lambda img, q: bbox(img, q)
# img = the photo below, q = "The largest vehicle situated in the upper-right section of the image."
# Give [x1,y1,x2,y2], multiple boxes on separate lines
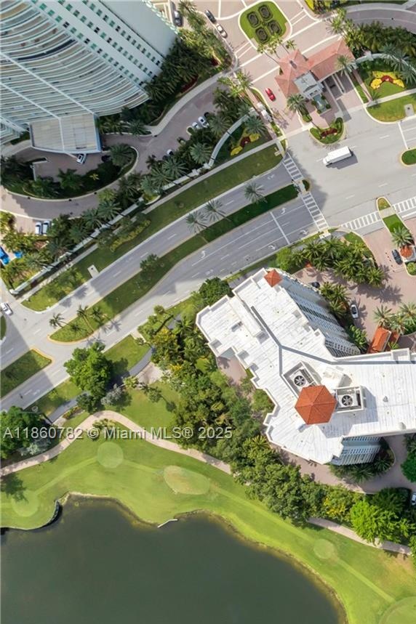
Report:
[324,147,351,165]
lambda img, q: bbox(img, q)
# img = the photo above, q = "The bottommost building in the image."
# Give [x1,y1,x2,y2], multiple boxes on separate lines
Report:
[197,269,416,464]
